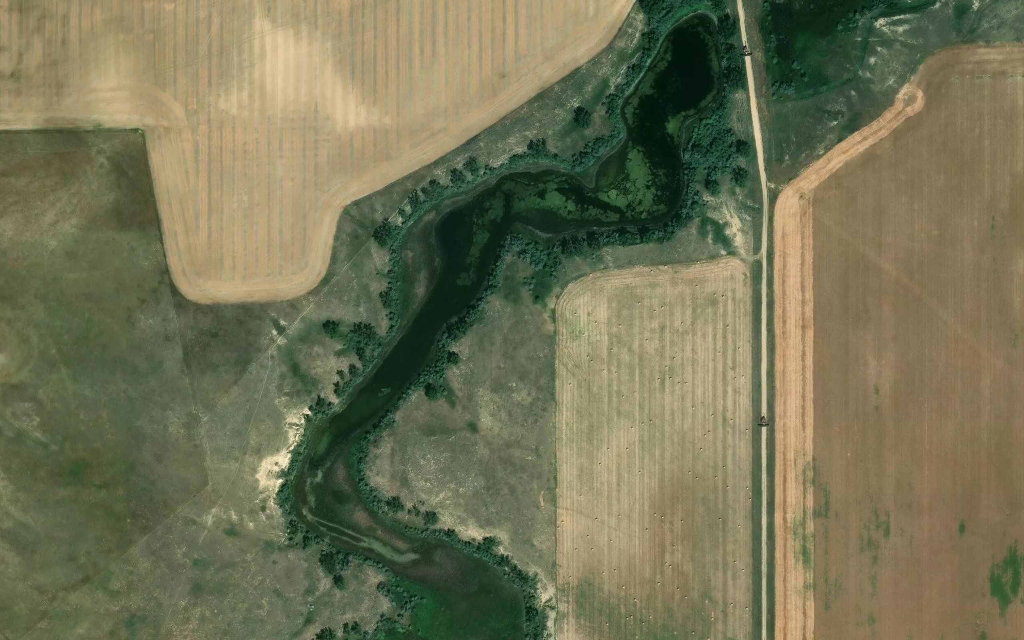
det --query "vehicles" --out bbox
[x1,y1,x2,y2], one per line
[742,43,753,56]
[758,416,770,427]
